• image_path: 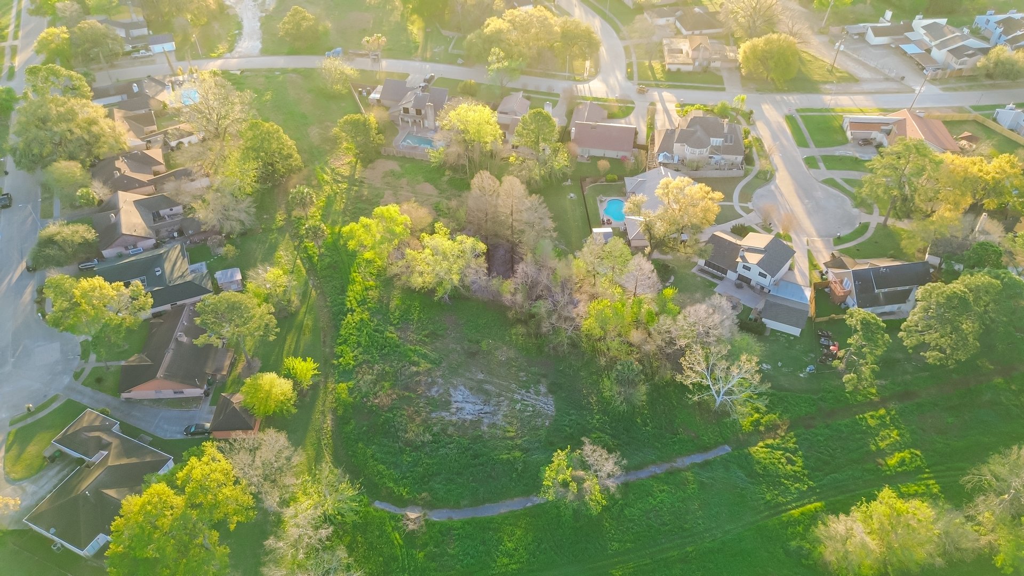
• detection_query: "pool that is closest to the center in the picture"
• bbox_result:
[603,198,626,222]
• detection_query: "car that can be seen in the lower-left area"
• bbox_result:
[180,422,209,435]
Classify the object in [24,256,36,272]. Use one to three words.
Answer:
vehicle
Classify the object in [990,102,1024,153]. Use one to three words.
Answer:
house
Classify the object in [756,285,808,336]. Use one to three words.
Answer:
building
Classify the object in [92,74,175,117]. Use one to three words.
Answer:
building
